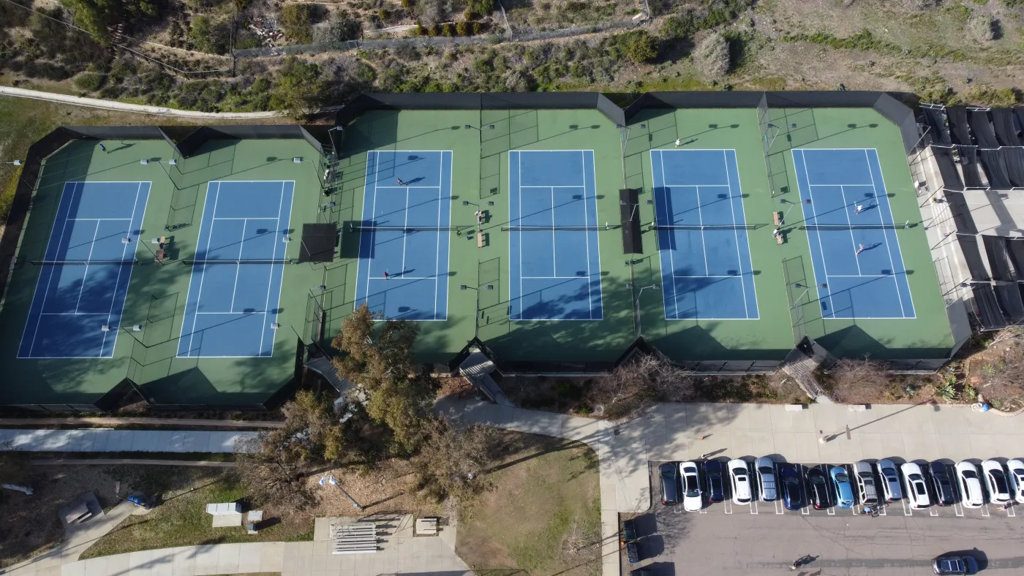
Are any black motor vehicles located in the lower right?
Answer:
Yes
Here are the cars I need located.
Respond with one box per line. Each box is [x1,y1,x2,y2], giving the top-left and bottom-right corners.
[954,465,981,505]
[778,466,802,510]
[875,459,902,502]
[727,460,750,504]
[930,554,977,576]
[753,458,776,502]
[658,462,679,506]
[900,464,927,509]
[702,459,724,503]
[852,462,879,506]
[829,469,853,508]
[679,464,702,509]
[979,461,1008,505]
[926,462,955,506]
[1001,460,1024,504]
[804,467,830,511]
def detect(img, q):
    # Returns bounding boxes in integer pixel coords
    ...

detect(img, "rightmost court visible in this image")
[757,107,955,374]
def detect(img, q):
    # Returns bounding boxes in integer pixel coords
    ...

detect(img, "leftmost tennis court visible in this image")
[0,140,185,415]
